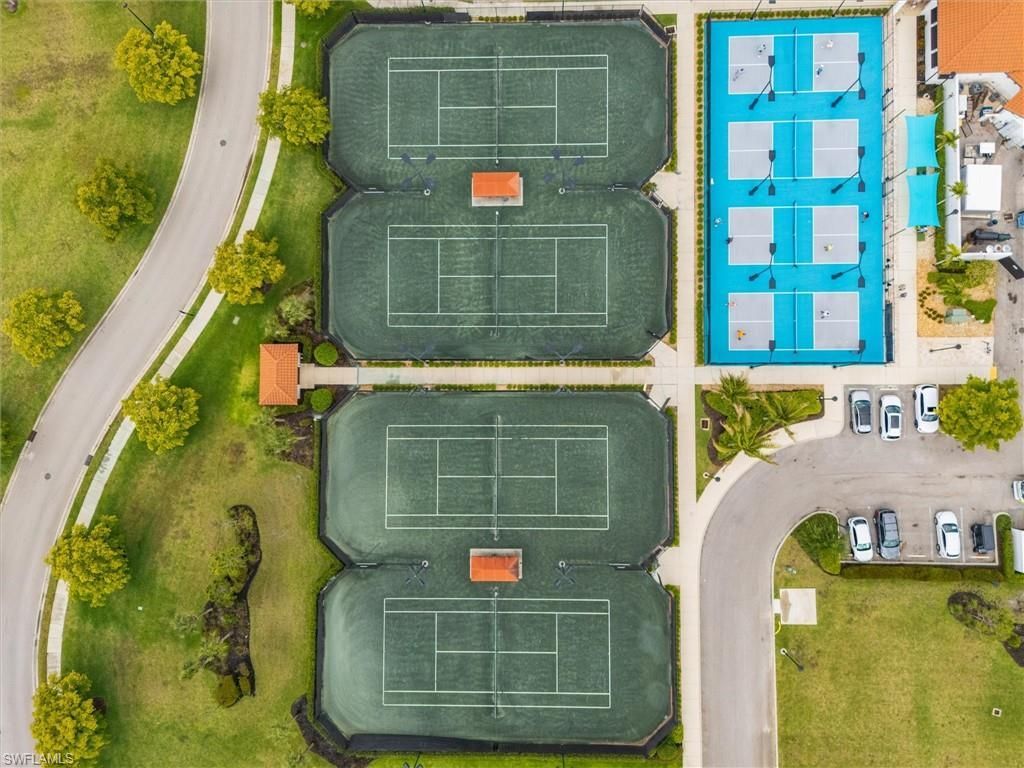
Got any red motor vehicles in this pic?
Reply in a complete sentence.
No, I can see no red motor vehicle in this picture.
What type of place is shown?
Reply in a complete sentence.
The area seen from above is a sports ground.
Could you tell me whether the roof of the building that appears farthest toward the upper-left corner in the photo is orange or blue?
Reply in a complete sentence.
The roof of the building that appears farthest toward the upper-left corner is orange.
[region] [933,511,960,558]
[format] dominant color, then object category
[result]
white car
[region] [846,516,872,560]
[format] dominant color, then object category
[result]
white car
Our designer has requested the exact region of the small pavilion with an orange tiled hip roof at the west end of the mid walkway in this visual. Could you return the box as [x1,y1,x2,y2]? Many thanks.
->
[258,344,305,406]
